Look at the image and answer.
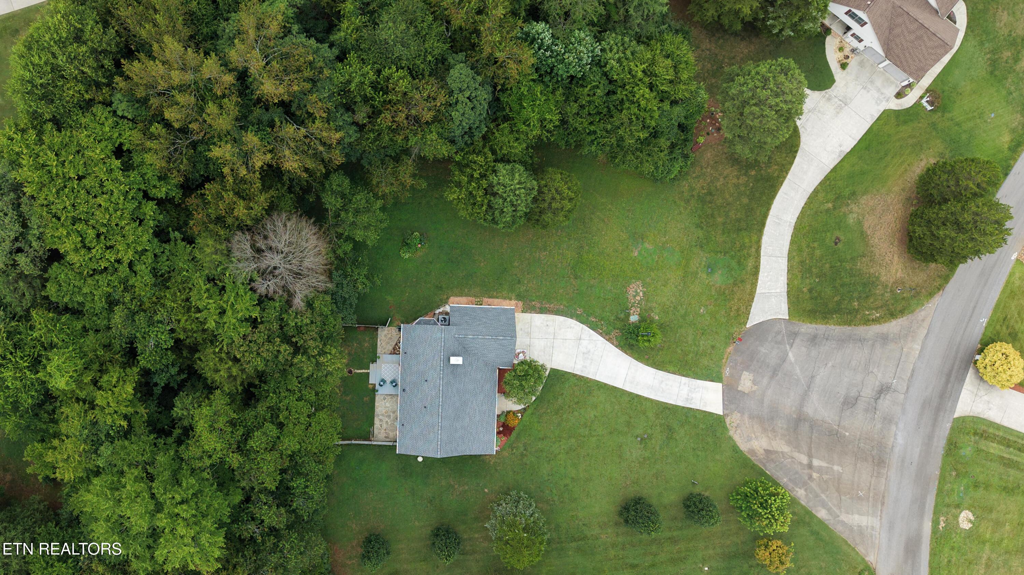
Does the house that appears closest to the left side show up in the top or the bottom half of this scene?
bottom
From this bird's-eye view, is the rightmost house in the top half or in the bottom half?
top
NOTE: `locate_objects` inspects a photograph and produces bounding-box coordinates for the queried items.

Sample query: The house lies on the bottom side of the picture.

[396,304,517,458]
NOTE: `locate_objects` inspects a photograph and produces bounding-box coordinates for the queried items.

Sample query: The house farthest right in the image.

[820,0,960,85]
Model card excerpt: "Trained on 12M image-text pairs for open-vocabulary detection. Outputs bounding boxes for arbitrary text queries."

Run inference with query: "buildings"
[820,0,960,85]
[396,304,517,458]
